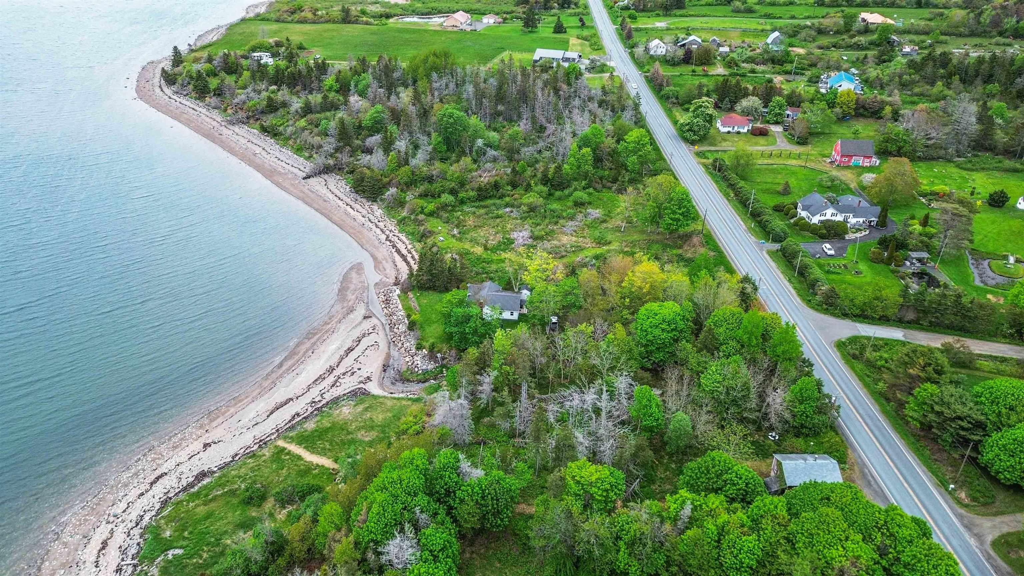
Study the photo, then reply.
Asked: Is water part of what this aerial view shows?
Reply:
Yes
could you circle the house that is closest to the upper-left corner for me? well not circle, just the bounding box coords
[441,10,473,27]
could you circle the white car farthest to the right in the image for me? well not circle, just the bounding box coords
[820,242,837,255]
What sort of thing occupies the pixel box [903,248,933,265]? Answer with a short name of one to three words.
building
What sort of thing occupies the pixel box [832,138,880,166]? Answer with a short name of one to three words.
barn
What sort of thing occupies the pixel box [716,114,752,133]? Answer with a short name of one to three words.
house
